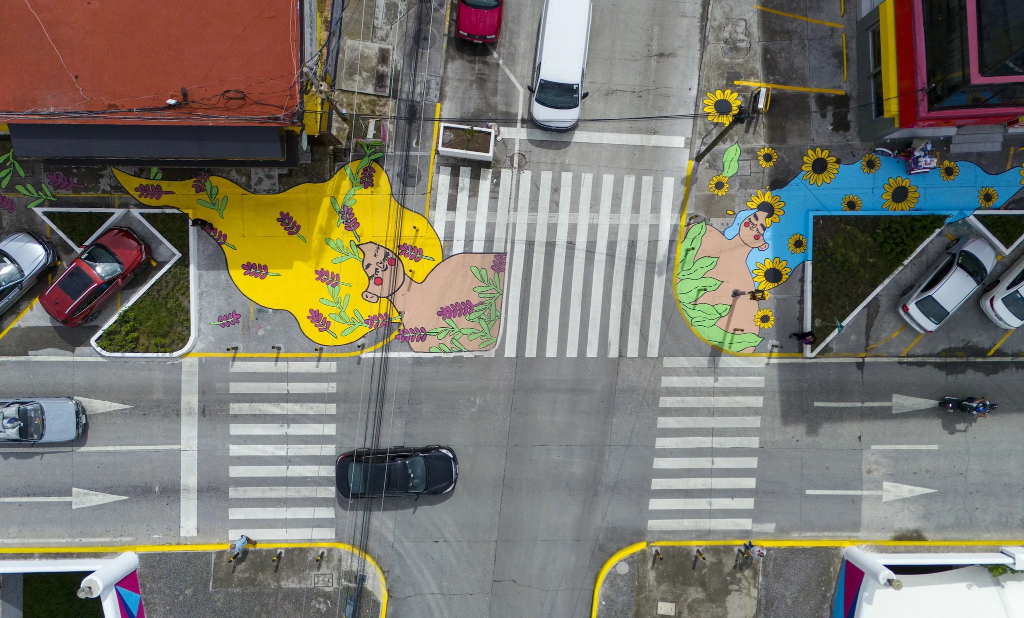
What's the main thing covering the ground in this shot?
paved ground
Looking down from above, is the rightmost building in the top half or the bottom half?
top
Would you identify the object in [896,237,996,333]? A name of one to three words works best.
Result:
car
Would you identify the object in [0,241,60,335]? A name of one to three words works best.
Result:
car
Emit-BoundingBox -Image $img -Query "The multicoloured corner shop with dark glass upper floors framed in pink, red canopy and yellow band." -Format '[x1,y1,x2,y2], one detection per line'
[861,0,1024,143]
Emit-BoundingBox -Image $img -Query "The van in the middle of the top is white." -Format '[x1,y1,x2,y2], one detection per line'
[527,0,595,134]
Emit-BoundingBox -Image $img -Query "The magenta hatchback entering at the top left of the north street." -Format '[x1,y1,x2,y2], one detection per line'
[458,0,502,43]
